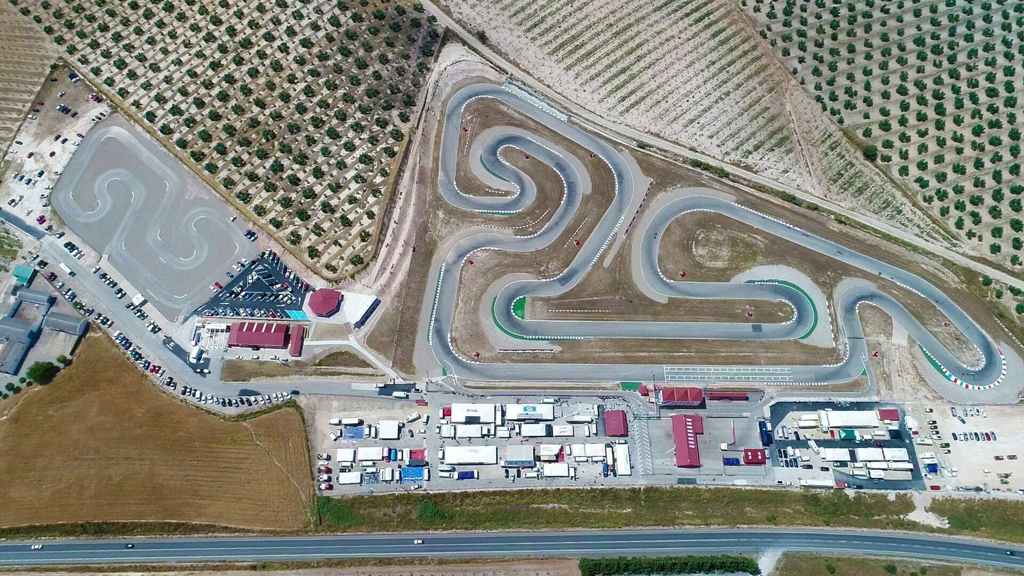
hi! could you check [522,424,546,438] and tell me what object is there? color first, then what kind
white tent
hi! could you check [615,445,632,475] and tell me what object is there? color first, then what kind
white tent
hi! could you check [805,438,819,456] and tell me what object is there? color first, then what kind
white camper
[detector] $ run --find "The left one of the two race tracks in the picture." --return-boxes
[55,122,255,308]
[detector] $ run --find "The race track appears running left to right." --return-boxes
[431,84,1000,386]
